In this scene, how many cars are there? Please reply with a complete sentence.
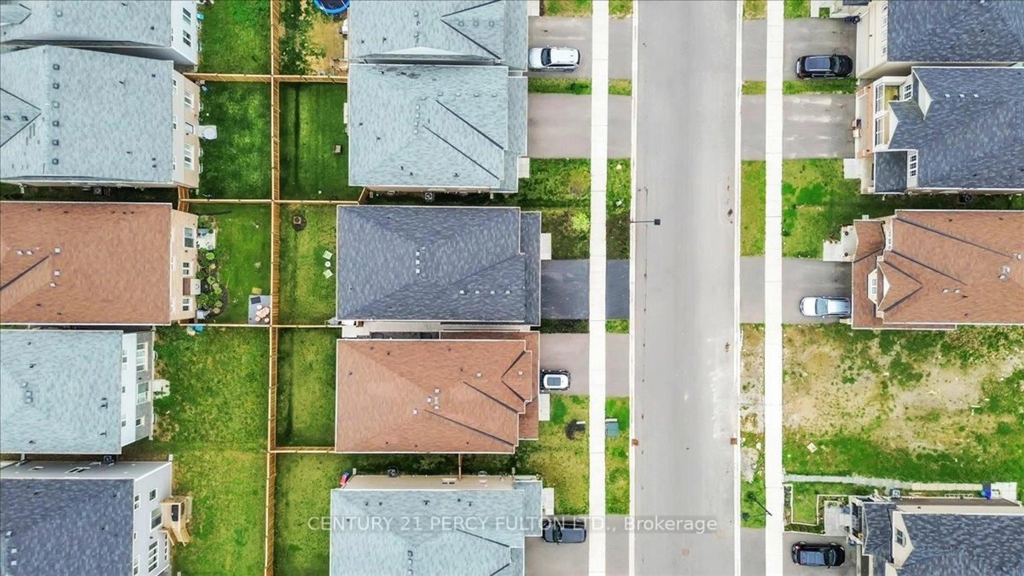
In total, there are 6 cars in the scene.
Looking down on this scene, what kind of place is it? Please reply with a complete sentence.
The picture captures a residential area.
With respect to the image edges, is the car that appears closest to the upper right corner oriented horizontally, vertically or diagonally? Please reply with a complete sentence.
In this picture, the car that appears closest to the upper right corner is oriented horizontally.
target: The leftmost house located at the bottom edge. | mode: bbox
[0,463,184,576]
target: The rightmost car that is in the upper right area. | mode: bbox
[797,52,852,79]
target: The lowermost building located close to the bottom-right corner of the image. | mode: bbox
[848,494,1024,576]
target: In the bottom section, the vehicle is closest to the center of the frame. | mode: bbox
[540,369,570,392]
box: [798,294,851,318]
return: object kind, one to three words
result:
car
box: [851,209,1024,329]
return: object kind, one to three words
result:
house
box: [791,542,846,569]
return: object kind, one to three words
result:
car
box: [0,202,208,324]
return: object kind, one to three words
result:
house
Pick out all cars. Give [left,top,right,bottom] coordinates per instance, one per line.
[798,294,851,318]
[542,520,586,545]
[791,542,846,569]
[540,369,570,392]
[797,52,852,79]
[529,45,581,72]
